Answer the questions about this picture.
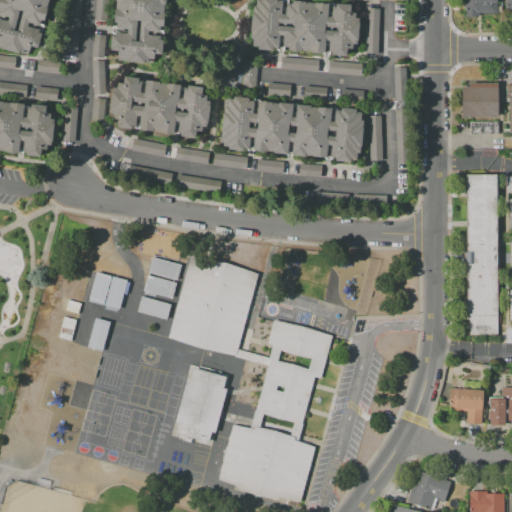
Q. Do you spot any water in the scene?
No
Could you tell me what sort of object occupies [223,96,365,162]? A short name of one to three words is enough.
building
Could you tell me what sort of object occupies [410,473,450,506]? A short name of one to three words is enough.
house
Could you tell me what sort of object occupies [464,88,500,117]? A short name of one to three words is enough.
house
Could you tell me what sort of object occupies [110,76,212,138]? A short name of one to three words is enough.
building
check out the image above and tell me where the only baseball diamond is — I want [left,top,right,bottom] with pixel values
[3,480,140,512]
